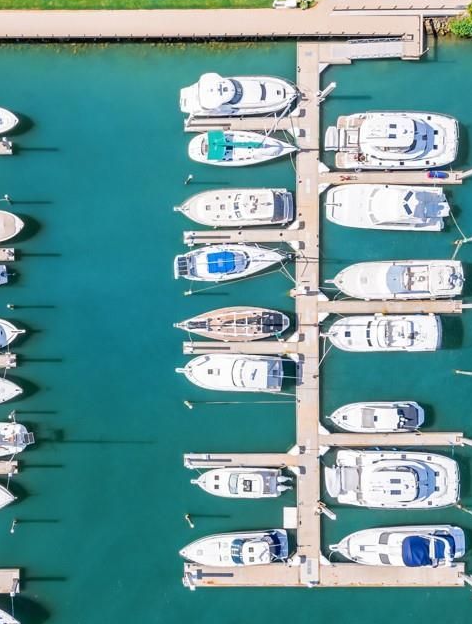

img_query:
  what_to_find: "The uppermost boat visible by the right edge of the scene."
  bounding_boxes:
[327,111,459,172]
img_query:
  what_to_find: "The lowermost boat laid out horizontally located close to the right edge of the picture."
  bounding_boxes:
[328,523,464,565]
